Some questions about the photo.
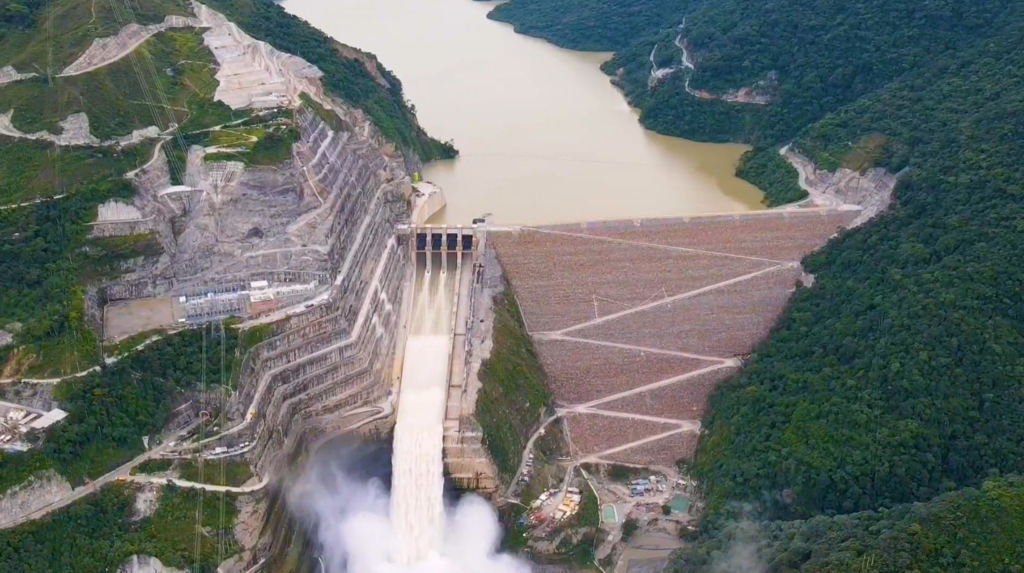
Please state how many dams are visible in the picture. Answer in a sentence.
The picture shows 1 dam.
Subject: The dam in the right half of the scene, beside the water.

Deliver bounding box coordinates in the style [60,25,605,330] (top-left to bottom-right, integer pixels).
[479,204,862,475]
